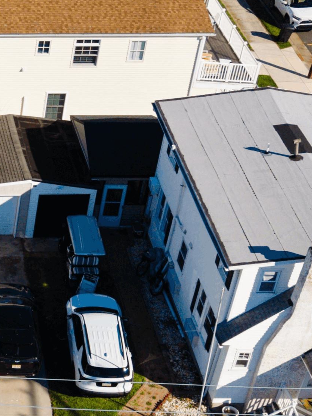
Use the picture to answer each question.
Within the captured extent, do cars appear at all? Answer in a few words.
Yes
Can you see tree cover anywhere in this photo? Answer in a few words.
No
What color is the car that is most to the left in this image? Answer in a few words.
black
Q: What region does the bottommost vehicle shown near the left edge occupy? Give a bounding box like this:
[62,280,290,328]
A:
[0,278,46,376]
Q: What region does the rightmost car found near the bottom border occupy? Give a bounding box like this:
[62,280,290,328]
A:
[64,294,134,398]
